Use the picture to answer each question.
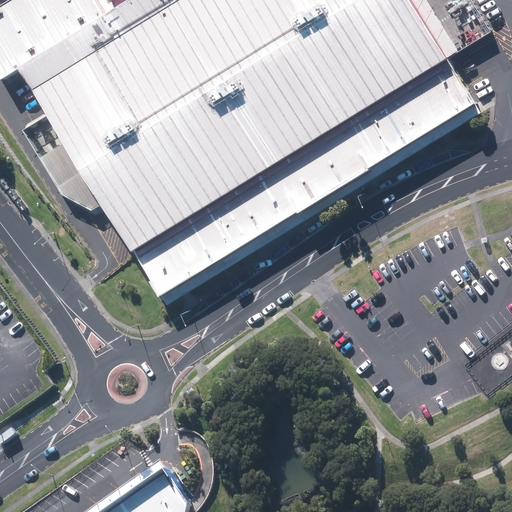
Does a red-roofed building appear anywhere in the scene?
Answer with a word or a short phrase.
No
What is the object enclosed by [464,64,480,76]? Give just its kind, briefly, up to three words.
vehicle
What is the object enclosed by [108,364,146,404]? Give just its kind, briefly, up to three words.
roundabout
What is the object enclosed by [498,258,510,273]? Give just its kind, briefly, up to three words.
vehicle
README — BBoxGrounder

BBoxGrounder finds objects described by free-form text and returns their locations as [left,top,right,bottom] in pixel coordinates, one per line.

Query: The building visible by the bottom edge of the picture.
[88,457,204,512]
